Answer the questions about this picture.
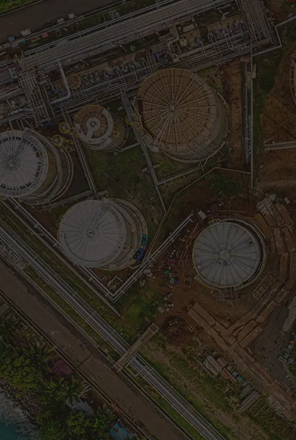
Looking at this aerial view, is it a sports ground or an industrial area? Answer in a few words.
industrial area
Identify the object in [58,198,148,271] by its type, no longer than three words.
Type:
storage tank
